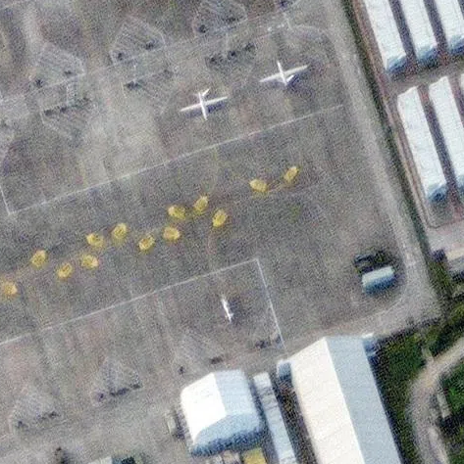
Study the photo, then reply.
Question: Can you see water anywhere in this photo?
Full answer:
No, water can't be seen anywhere here.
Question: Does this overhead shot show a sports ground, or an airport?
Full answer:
It's an airport.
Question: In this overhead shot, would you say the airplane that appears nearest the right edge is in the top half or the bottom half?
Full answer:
The airplane that appears nearest the right edge is in the top half of the image.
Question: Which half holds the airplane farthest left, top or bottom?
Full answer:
Seen from above, the airplane farthest left lies in the top half of the view.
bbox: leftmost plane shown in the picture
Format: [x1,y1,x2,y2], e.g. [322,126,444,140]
[179,92,226,119]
